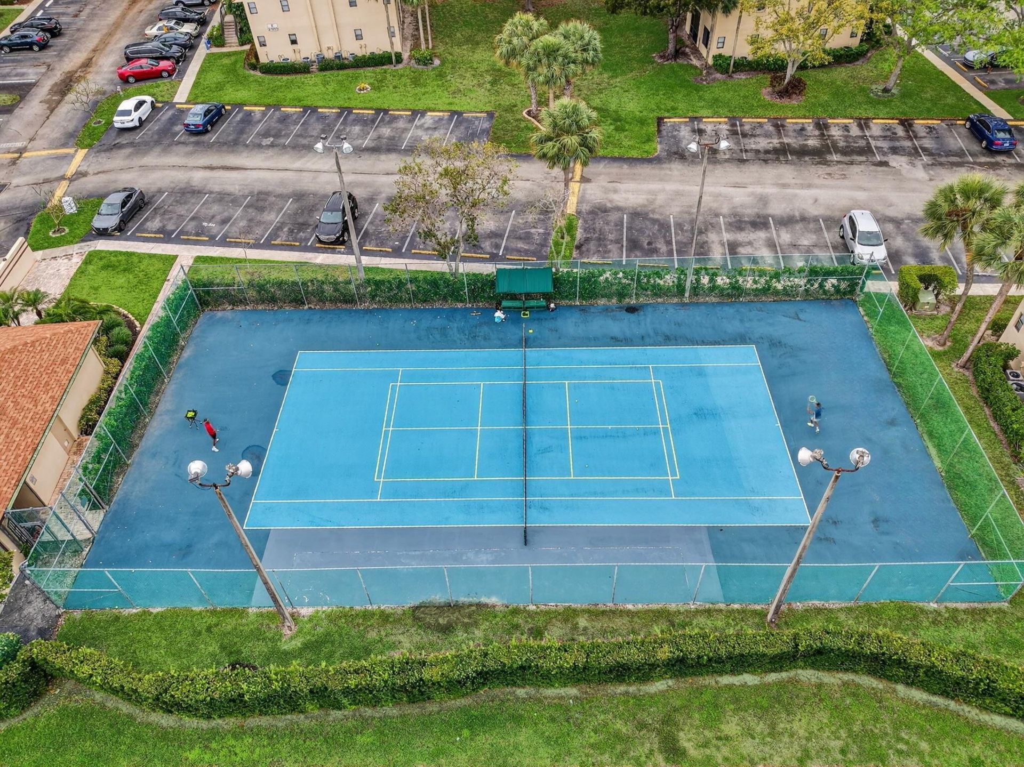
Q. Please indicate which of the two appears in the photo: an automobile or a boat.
automobile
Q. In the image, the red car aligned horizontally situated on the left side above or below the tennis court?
above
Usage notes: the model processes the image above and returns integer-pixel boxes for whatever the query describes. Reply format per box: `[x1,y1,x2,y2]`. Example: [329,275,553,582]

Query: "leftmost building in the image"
[0,321,105,543]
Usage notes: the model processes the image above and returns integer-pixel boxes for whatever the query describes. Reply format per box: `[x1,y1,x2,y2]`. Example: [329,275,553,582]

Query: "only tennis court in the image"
[65,300,1000,606]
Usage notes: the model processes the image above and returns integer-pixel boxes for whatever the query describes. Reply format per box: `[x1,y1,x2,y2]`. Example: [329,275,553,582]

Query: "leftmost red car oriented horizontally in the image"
[114,56,175,82]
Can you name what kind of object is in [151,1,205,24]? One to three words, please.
car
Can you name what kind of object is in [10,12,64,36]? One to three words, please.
car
